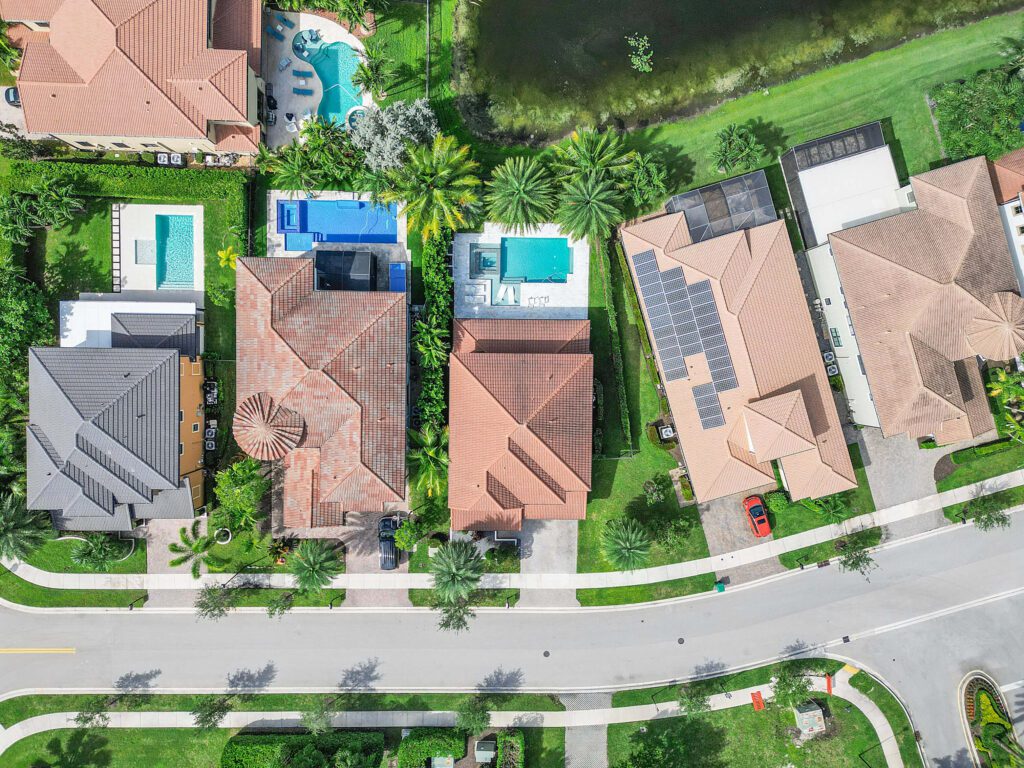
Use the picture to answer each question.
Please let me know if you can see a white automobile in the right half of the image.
No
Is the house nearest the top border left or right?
left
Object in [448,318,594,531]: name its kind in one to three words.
house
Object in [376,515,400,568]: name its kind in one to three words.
car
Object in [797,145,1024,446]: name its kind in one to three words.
house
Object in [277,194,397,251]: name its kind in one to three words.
swimming pool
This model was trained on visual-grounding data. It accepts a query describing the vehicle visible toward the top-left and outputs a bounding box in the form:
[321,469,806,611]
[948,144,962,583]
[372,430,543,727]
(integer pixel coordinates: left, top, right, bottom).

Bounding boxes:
[2,84,22,108]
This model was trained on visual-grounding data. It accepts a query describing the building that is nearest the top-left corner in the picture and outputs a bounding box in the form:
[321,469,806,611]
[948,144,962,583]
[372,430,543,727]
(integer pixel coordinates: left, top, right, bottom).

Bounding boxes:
[0,0,266,159]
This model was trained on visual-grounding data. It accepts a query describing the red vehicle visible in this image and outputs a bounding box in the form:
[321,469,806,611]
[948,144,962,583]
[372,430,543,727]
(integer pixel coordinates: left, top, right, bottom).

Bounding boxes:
[739,493,775,539]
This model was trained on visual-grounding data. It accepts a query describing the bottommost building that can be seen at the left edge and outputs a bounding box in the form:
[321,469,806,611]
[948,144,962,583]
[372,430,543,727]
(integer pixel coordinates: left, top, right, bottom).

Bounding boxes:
[25,301,206,532]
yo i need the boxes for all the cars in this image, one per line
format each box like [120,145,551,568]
[376,515,400,568]
[739,493,775,539]
[2,84,22,108]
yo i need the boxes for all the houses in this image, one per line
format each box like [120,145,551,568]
[620,210,858,504]
[448,318,594,531]
[797,145,1024,446]
[232,256,410,528]
[25,301,206,532]
[0,0,266,159]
